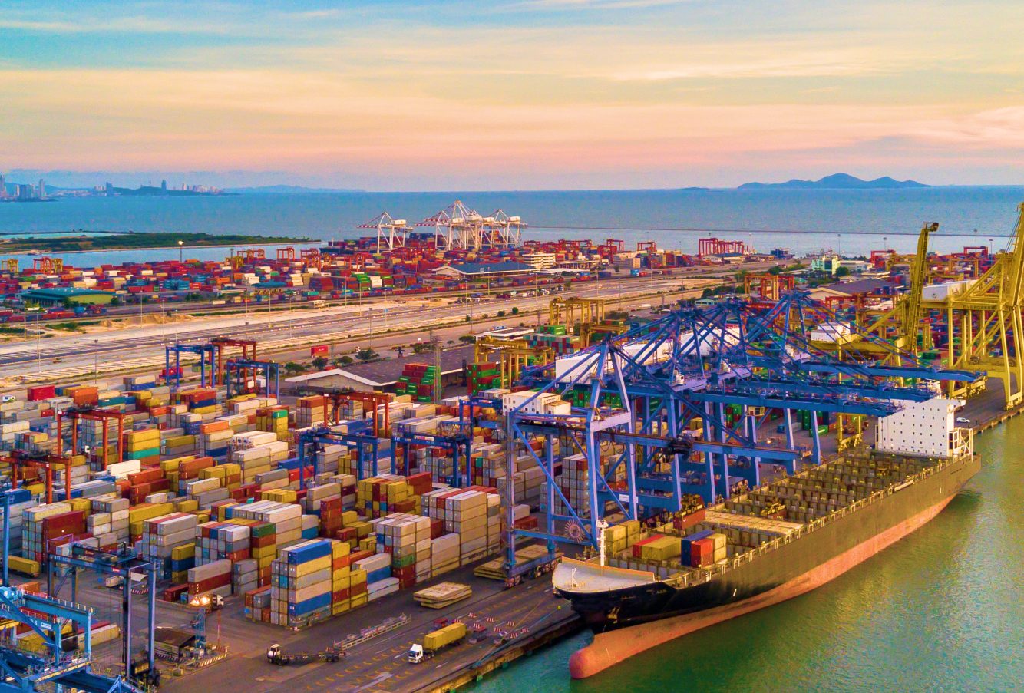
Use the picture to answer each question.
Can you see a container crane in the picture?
Yes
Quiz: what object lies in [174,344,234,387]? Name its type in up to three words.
container crane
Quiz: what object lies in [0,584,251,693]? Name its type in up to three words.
container crane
